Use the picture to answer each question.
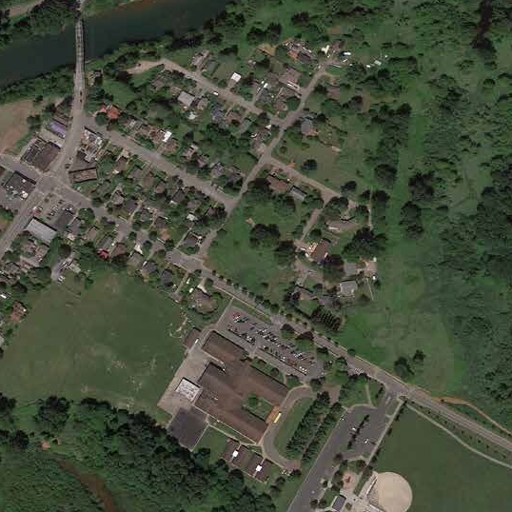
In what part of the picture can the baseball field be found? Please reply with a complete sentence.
The baseball field appears toward the bottom right of the photo.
